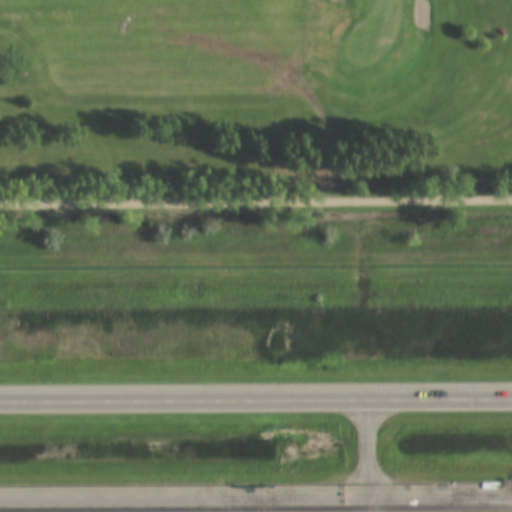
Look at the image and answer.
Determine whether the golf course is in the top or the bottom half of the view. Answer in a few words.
top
